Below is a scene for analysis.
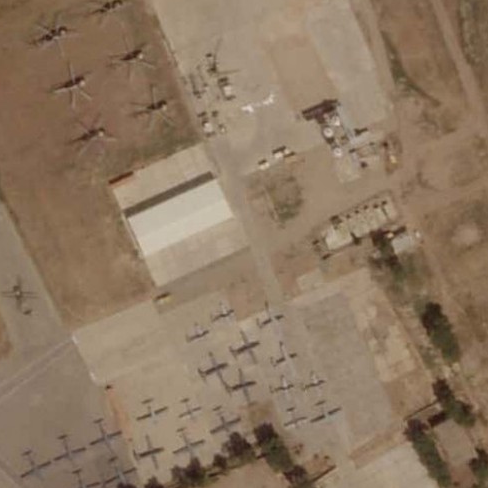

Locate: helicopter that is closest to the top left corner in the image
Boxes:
[30,13,77,53]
